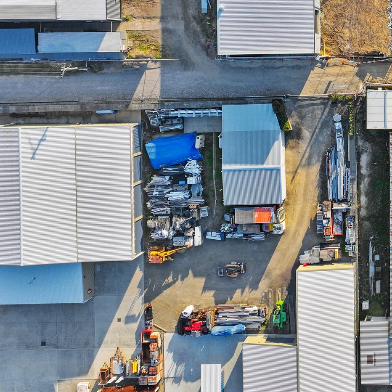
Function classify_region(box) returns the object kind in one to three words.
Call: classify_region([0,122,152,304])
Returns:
shed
